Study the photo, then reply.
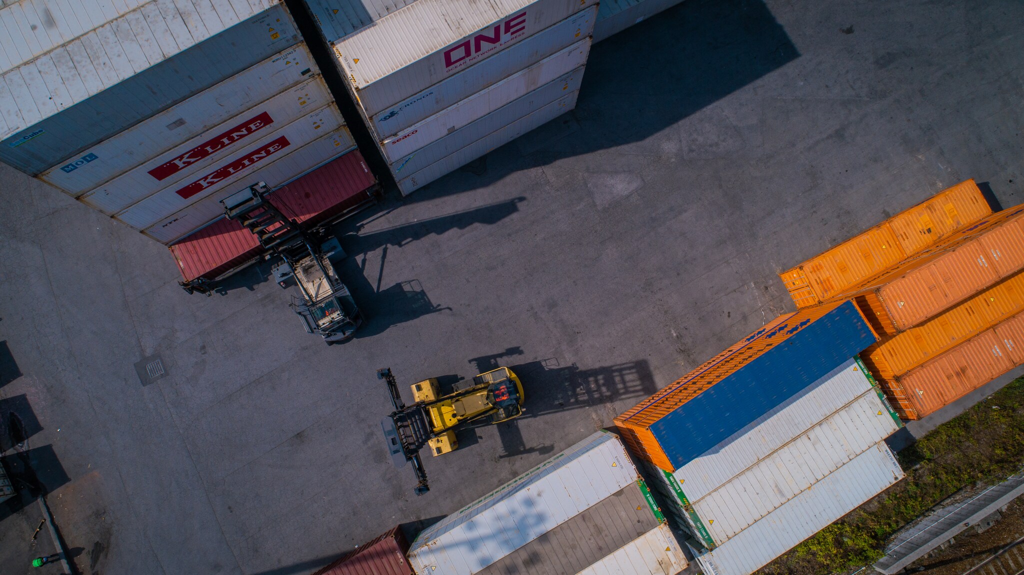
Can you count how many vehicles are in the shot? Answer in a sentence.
My tally gives 2 vehicles in this view.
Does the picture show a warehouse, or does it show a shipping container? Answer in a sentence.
There is a shipping container in the scene.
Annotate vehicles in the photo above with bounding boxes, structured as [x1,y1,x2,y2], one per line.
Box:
[375,363,528,499]
[192,179,390,347]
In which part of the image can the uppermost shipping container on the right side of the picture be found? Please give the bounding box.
[588,0,684,49]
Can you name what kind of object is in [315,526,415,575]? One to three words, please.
shipping container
